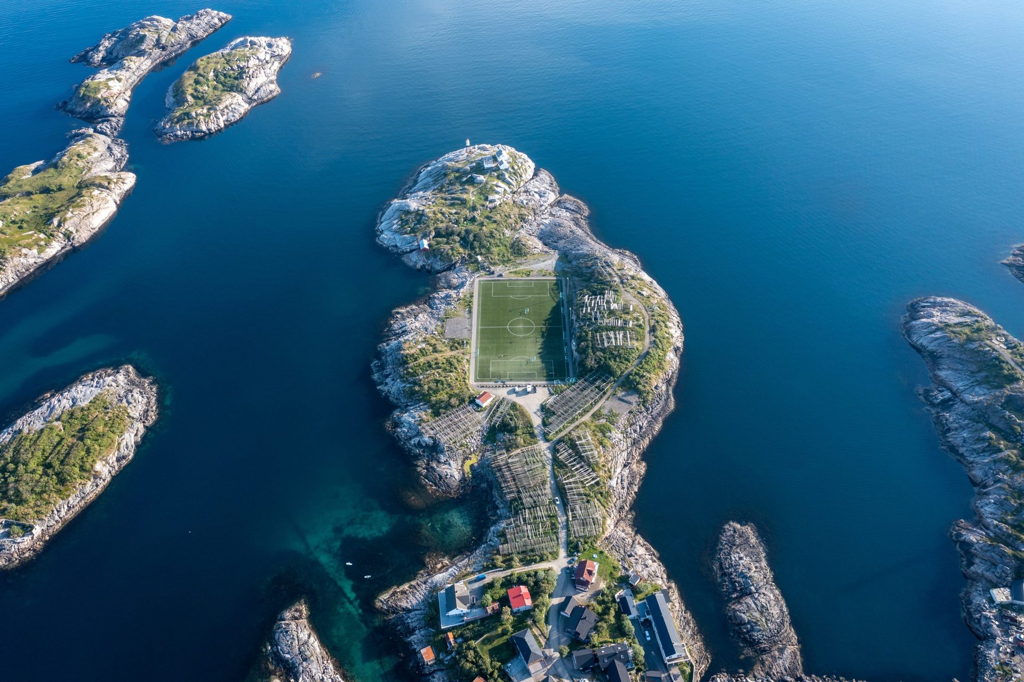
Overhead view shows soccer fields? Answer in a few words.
Yes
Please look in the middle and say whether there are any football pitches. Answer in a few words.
Yes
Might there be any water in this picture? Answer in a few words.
Yes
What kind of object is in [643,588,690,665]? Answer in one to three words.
building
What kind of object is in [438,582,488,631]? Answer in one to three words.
house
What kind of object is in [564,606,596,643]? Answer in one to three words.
house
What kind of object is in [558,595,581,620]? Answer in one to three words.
building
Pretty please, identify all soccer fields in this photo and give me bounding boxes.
[474,280,570,382]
